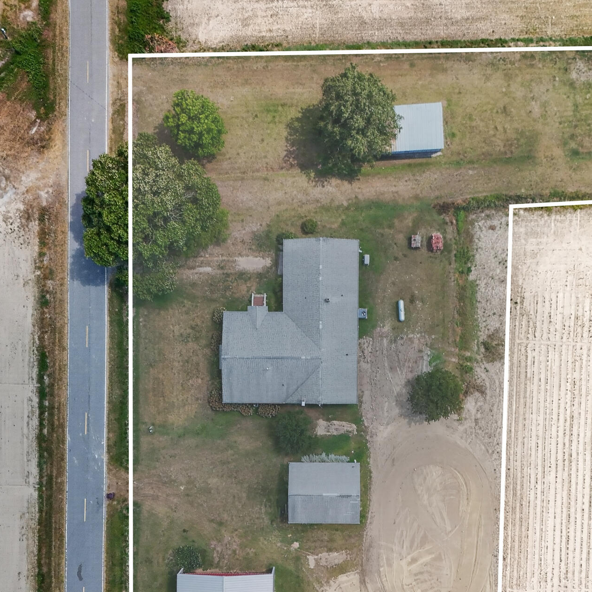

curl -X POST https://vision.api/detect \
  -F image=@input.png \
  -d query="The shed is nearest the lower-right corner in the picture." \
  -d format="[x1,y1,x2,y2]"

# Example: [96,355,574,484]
[287,461,361,524]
